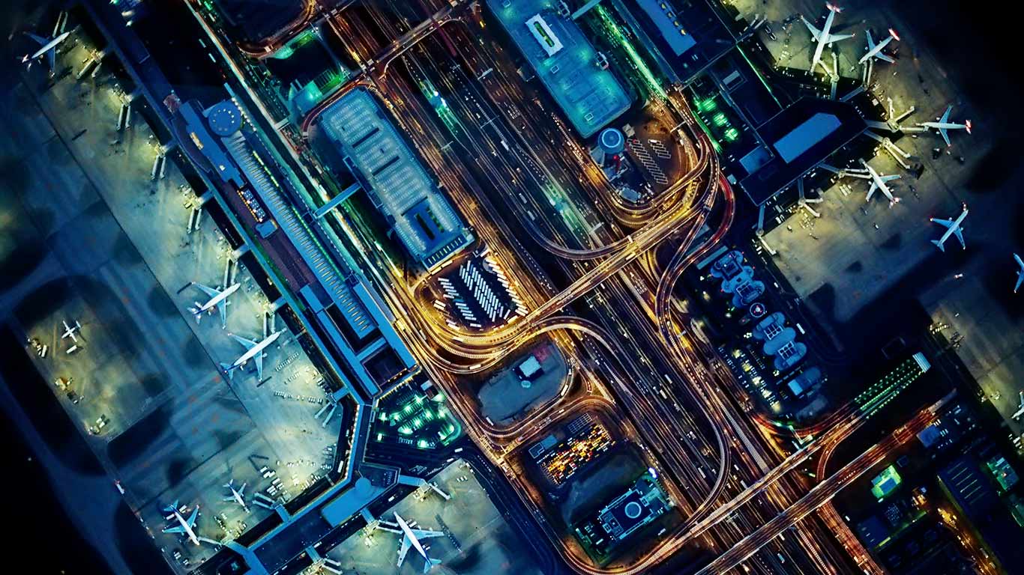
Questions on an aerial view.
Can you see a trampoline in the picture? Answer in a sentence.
No, the scene contains no trampoline.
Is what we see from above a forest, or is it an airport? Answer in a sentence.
The picture captures an airport.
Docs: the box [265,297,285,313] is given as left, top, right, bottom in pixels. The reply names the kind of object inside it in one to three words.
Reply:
jet bridge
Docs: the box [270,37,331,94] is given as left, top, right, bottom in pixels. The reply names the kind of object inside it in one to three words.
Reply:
building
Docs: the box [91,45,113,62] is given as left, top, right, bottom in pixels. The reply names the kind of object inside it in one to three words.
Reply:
jet bridge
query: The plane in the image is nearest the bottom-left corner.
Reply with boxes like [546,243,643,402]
[158,500,198,545]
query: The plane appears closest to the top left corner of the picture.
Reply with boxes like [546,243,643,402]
[15,29,70,70]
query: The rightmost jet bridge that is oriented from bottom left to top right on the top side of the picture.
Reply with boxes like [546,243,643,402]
[894,103,917,122]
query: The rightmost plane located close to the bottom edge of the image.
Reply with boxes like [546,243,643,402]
[393,513,445,575]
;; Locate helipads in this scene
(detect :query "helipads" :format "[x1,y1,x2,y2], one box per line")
[627,504,640,517]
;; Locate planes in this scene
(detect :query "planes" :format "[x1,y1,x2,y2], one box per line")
[184,278,239,328]
[61,321,79,340]
[867,163,905,207]
[861,25,901,62]
[802,0,856,72]
[158,500,198,545]
[931,206,969,252]
[15,29,70,70]
[222,480,247,511]
[918,104,973,145]
[218,330,282,382]
[393,513,445,575]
